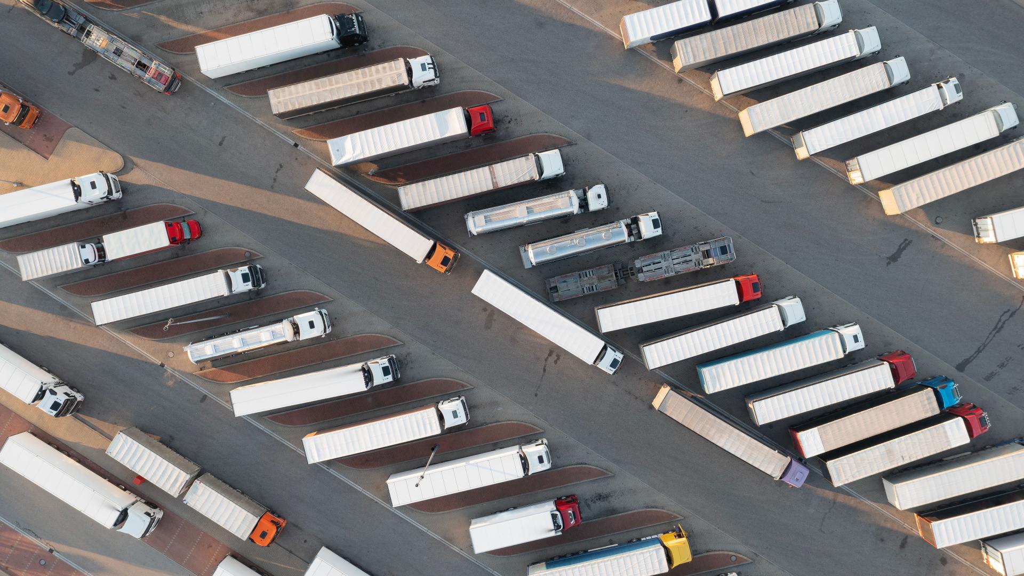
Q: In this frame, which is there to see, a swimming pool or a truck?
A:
truck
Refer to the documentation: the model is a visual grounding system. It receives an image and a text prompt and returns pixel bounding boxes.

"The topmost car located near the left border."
[20,0,67,25]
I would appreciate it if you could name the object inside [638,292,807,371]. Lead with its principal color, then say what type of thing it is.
white truck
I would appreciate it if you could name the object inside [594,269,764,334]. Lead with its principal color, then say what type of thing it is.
white truck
